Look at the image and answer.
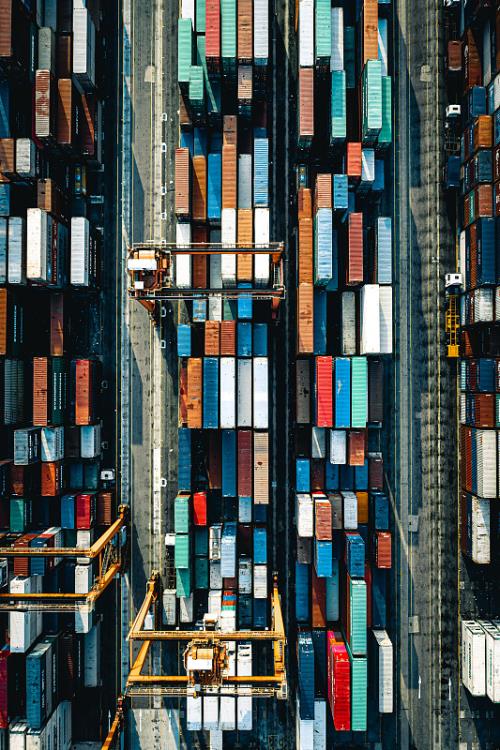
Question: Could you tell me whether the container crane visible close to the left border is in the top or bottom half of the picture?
bottom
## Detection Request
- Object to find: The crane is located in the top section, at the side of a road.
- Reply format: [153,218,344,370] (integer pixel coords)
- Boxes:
[123,239,293,328]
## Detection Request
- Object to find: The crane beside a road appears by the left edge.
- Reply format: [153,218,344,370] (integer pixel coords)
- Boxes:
[0,503,127,620]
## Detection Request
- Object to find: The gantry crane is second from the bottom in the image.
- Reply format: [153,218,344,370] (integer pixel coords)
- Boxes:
[124,570,293,703]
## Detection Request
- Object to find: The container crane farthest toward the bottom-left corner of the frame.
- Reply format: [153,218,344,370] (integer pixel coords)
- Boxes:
[103,702,126,750]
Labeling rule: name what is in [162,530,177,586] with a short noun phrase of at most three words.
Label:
vehicle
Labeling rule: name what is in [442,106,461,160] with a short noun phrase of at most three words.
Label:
vehicle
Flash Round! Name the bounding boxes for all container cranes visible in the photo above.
[103,702,126,750]
[0,503,127,620]
[123,239,293,328]
[124,570,293,703]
